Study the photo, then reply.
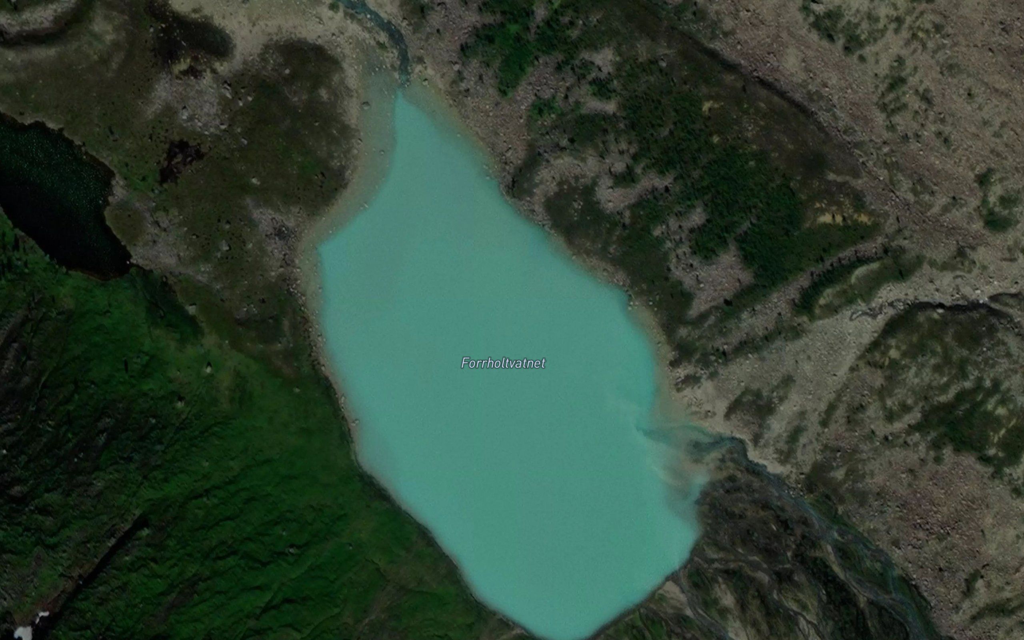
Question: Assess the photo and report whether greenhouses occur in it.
No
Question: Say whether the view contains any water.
Yes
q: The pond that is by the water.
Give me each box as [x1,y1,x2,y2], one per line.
[0,111,134,280]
